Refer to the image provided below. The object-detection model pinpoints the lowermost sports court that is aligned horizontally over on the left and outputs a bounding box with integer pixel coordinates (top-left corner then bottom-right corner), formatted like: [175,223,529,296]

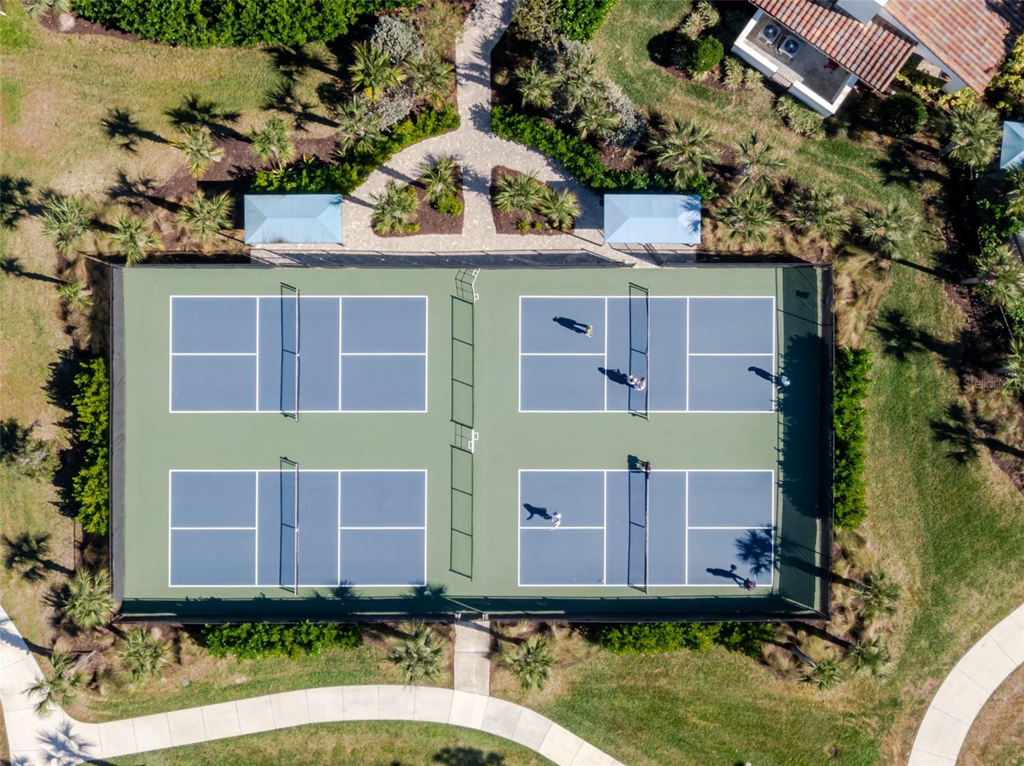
[170,470,426,587]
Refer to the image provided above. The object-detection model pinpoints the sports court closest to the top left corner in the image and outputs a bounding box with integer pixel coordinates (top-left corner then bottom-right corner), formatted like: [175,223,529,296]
[170,296,427,413]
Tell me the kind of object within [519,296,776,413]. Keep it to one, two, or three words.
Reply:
sports court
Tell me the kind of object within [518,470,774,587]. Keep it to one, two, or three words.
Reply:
sports court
